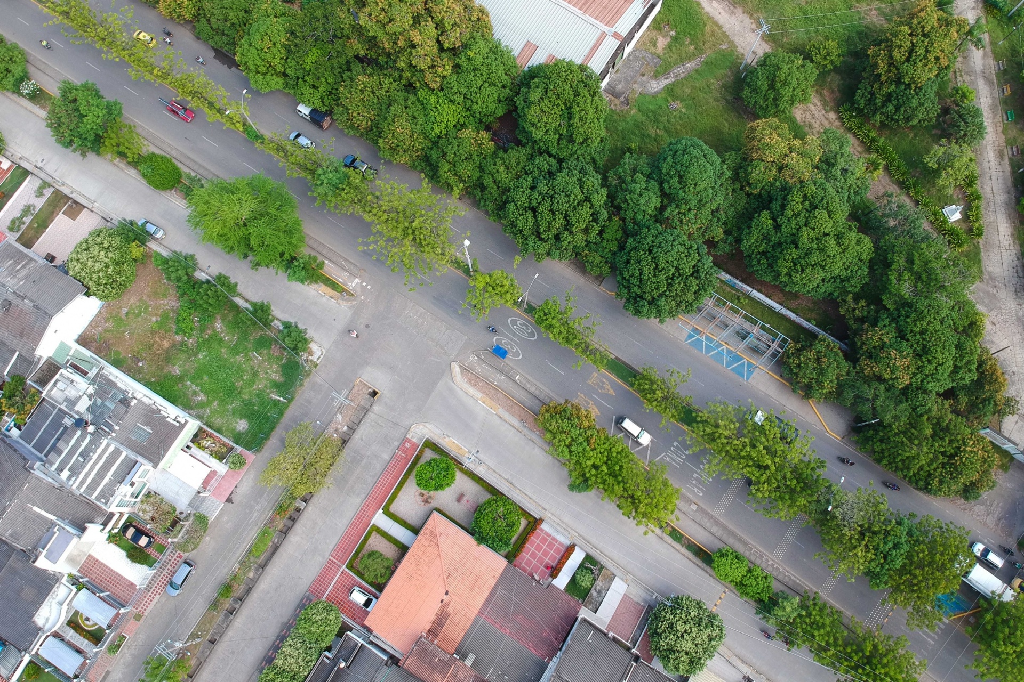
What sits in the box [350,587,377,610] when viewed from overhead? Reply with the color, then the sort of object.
white car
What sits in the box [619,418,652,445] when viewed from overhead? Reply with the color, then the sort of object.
white car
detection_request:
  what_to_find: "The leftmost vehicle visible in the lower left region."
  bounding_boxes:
[123,523,154,548]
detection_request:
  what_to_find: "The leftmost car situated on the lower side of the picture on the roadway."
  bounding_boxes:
[168,560,198,597]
